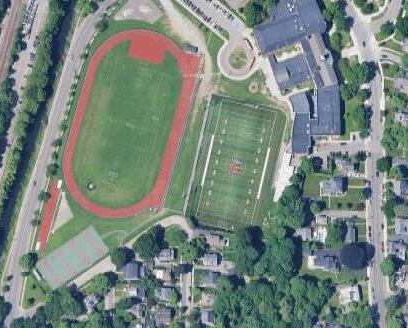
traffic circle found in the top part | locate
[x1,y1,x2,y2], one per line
[218,38,258,78]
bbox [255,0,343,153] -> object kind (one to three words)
building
